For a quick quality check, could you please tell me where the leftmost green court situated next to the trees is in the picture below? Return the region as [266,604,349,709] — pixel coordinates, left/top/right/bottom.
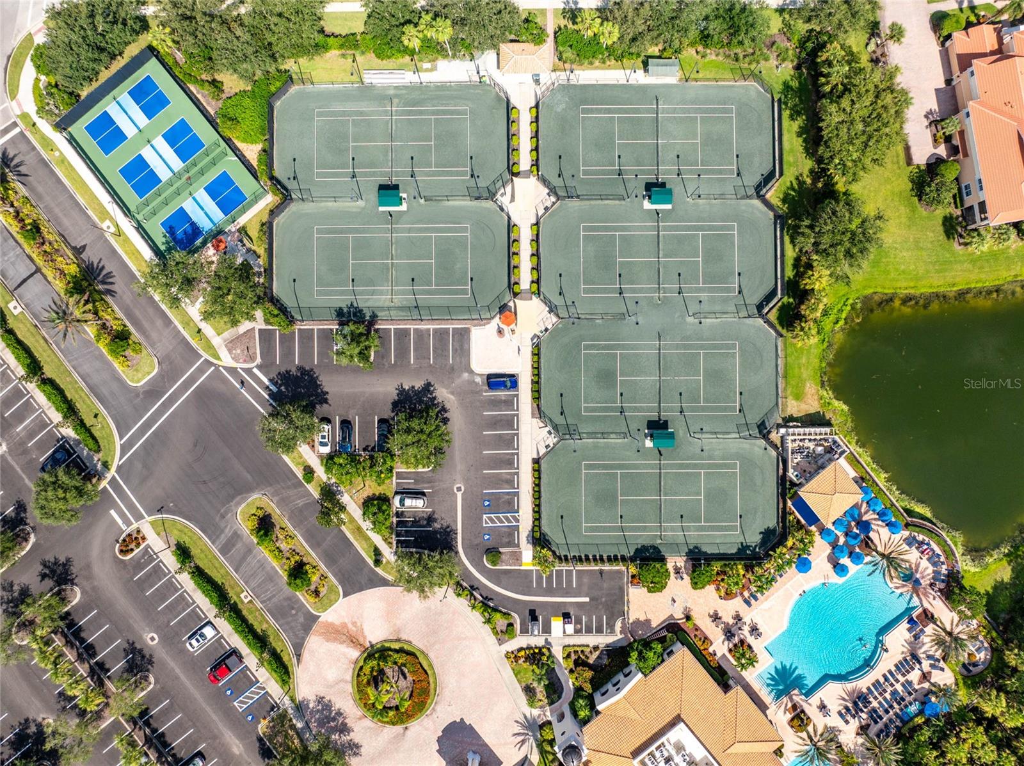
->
[69,57,268,264]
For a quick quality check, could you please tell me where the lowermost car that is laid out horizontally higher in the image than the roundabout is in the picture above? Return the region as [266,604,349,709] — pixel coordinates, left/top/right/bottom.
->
[394,493,427,507]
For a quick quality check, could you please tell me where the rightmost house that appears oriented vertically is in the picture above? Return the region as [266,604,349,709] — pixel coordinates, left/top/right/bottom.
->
[940,24,1024,232]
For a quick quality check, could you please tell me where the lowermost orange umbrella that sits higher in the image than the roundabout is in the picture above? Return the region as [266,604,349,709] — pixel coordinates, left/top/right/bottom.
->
[500,311,515,327]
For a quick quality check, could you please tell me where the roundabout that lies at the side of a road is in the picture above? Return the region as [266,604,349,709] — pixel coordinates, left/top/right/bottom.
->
[297,585,538,766]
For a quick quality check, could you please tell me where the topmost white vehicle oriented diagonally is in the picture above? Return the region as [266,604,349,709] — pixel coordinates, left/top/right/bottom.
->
[186,623,217,652]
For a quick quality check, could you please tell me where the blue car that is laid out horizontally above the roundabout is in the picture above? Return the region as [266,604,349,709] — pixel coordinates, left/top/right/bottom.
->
[488,376,518,390]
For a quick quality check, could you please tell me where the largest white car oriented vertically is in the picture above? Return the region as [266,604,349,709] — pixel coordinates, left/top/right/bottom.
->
[317,420,332,452]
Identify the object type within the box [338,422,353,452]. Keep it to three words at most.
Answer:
car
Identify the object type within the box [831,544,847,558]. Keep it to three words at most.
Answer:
umbrella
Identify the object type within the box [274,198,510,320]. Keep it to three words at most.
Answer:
tennis court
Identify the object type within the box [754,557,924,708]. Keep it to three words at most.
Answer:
swimming pool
